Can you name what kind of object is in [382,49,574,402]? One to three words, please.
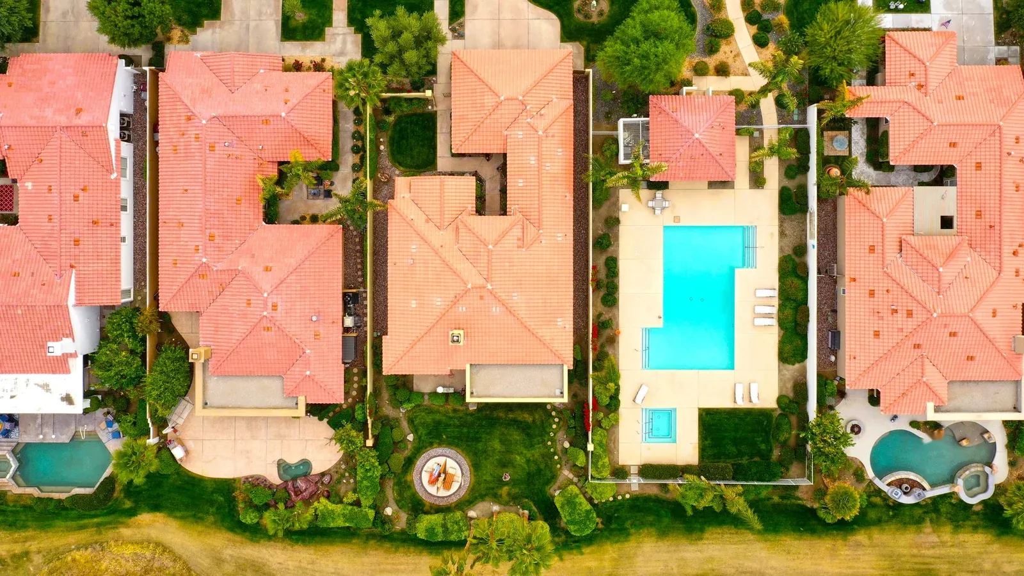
house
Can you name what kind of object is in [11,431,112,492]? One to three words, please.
swimming pool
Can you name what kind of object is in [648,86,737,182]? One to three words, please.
building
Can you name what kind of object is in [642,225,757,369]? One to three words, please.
swimming pool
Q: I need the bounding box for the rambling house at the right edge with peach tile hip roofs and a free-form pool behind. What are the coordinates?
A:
[837,31,1024,420]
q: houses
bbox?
[837,31,1024,420]
[0,52,140,414]
[382,49,574,402]
[157,50,345,416]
